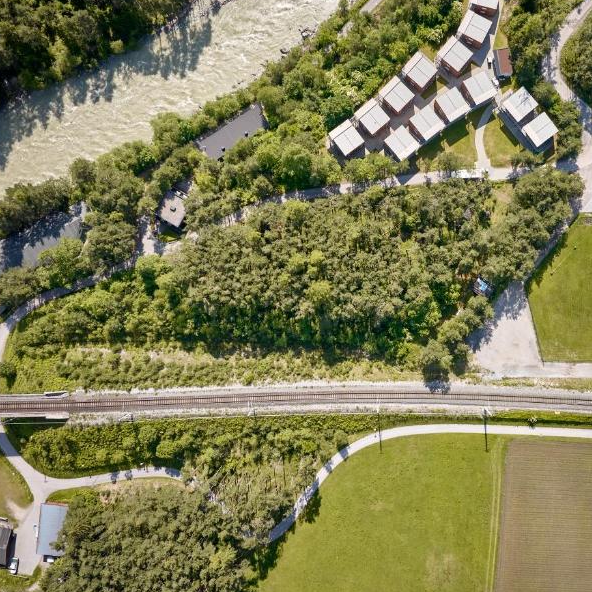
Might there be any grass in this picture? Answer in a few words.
Yes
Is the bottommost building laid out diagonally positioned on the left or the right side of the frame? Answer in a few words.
left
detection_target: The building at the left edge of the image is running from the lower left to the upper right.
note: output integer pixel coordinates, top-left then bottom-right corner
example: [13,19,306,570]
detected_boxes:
[4,210,86,283]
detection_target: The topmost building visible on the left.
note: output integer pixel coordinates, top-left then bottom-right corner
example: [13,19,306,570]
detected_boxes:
[195,103,269,160]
